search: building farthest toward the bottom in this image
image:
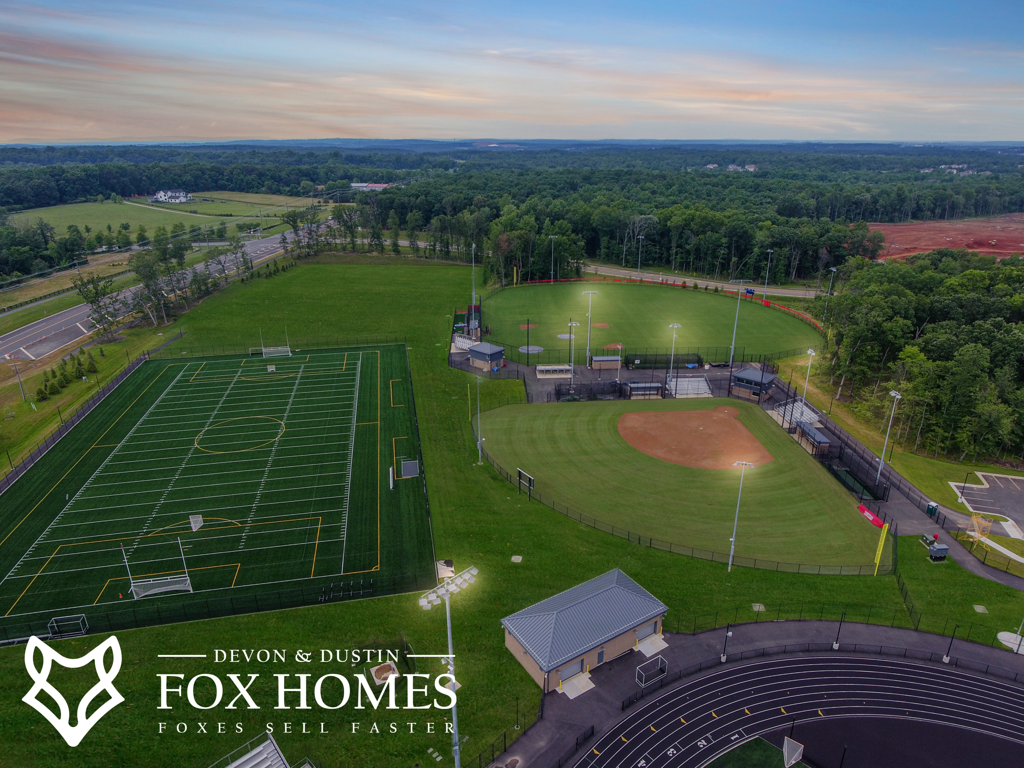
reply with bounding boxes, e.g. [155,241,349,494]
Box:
[499,569,671,692]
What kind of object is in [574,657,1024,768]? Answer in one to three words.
running track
